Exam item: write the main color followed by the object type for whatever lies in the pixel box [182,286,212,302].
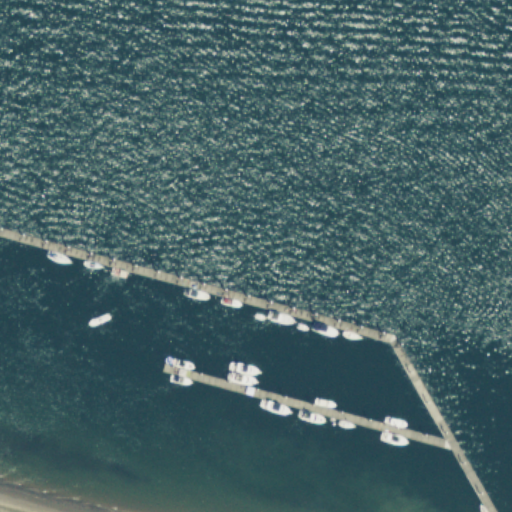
white boat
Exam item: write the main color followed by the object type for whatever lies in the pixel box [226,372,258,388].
white boat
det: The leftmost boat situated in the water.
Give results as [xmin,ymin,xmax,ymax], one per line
[45,252,74,264]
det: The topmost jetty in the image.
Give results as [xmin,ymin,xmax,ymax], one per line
[0,229,390,342]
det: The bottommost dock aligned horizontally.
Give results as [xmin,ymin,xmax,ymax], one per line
[163,364,446,448]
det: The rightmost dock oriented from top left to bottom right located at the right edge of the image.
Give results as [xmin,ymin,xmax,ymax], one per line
[393,346,498,512]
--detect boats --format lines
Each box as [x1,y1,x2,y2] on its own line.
[110,268,130,279]
[228,362,262,376]
[383,415,408,432]
[168,372,194,384]
[378,428,410,446]
[266,308,298,325]
[45,252,74,264]
[82,258,106,270]
[338,416,358,429]
[256,397,294,414]
[296,410,328,424]
[182,286,212,302]
[341,330,364,340]
[164,356,196,373]
[88,313,114,326]
[254,312,268,321]
[296,322,308,332]
[219,293,244,308]
[310,319,340,336]
[226,372,258,388]
[313,397,338,412]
